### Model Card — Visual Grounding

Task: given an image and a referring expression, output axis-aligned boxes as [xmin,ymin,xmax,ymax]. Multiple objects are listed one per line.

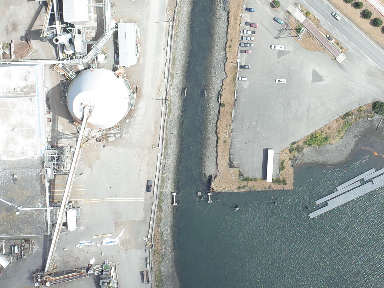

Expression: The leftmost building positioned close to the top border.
[62,0,98,22]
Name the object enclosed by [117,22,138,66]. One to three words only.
shed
